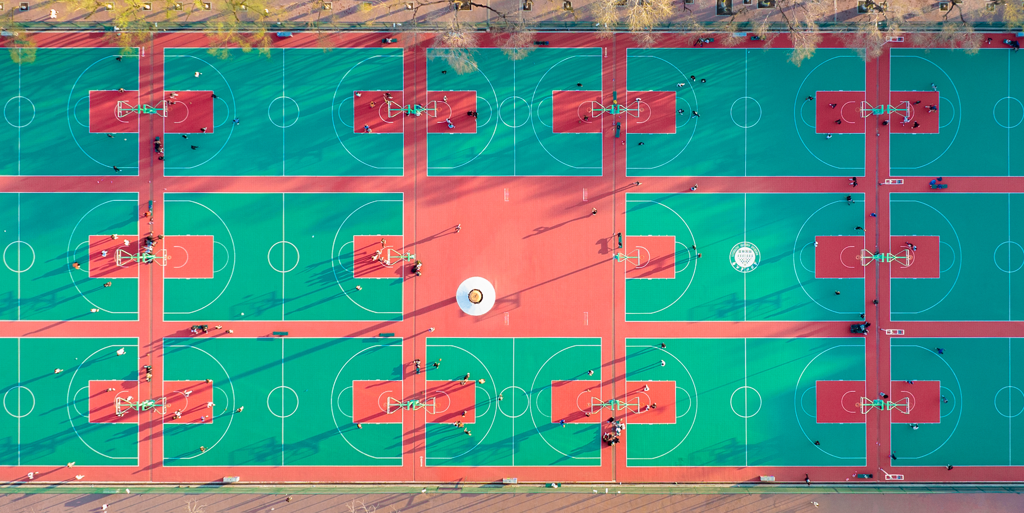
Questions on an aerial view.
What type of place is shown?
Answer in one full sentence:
What you see here is a sports ground.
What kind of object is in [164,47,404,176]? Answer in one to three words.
basketball court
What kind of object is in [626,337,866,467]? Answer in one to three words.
basketball court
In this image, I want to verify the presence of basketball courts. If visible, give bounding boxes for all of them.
[0,337,139,467]
[626,47,866,176]
[164,47,404,176]
[0,192,139,321]
[426,337,602,467]
[0,47,139,176]
[163,337,403,467]
[427,47,602,176]
[890,47,1024,176]
[890,192,1024,321]
[626,337,866,467]
[163,192,403,321]
[626,192,865,321]
[890,337,1024,467]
